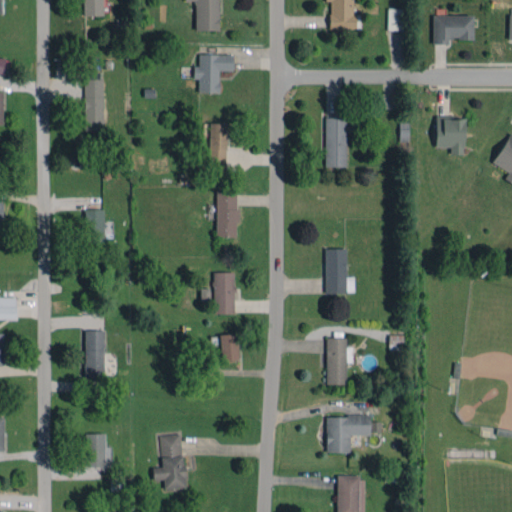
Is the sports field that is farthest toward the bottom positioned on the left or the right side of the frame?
right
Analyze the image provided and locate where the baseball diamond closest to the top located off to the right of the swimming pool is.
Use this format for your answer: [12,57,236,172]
[454,275,512,432]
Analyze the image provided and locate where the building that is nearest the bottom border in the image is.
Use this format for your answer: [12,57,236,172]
[338,476,366,512]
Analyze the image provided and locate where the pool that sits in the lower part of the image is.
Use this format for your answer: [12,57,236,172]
[360,355,378,371]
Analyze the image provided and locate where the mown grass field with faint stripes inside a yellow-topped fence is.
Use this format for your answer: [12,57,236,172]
[446,460,512,512]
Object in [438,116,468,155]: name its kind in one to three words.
house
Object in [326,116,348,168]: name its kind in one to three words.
house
